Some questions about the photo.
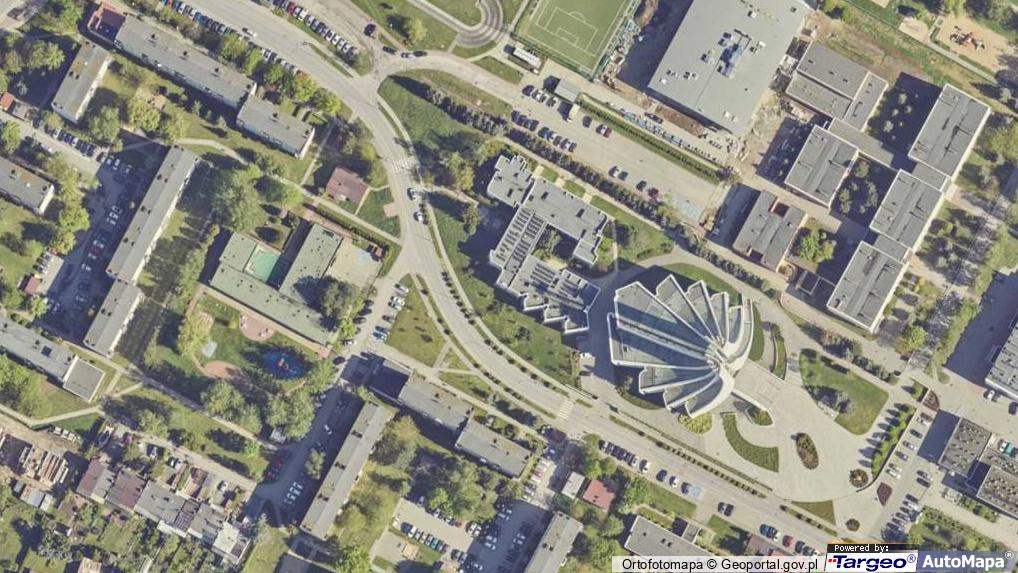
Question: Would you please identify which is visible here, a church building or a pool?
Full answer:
It is a church building that can be seen here.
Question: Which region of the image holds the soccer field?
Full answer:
The soccer field sits in the top section of the image.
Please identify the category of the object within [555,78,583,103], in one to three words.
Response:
shed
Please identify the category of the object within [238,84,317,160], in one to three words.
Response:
building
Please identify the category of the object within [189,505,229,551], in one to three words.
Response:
house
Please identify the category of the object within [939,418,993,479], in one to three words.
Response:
building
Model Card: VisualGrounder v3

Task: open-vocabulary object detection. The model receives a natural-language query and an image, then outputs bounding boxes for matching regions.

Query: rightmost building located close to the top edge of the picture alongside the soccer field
[648,0,817,140]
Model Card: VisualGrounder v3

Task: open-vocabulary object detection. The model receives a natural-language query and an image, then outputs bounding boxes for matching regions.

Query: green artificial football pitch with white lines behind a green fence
[517,0,632,74]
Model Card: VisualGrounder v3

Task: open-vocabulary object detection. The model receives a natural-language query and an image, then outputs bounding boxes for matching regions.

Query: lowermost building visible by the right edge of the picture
[977,467,1018,519]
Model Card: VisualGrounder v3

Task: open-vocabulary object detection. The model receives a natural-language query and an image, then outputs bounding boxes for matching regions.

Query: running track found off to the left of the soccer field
[405,0,501,45]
